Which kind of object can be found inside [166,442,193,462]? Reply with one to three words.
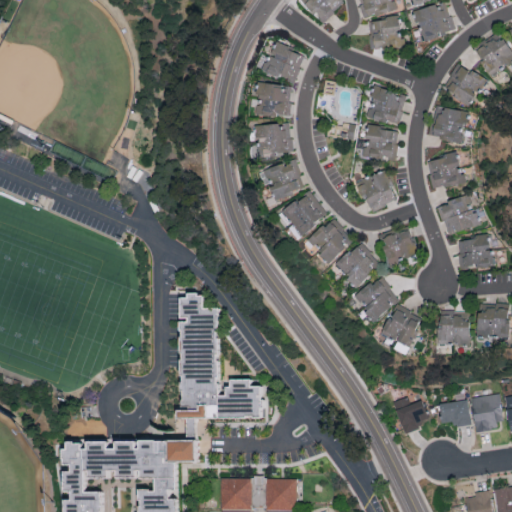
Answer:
building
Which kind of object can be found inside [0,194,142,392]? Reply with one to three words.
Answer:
sports field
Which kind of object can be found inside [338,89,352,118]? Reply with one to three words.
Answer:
swimming pool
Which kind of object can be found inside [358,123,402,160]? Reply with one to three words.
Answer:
house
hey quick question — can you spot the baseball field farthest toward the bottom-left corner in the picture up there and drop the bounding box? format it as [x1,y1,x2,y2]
[0,411,44,512]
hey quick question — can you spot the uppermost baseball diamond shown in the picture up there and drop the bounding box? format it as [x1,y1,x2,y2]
[0,0,134,162]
